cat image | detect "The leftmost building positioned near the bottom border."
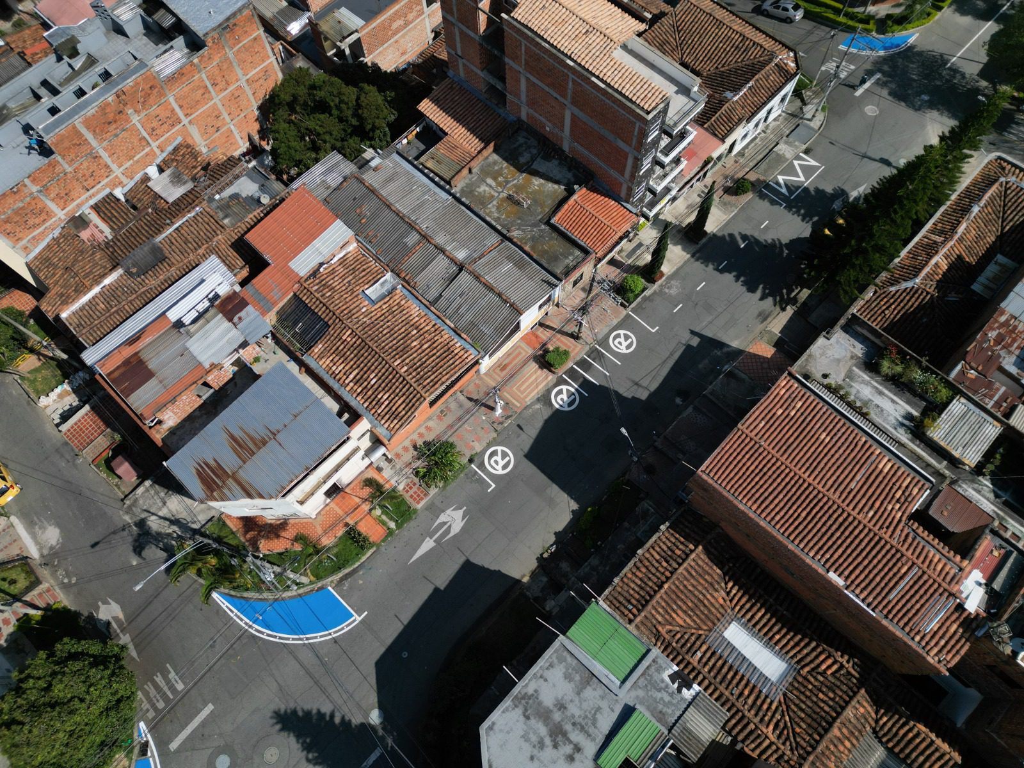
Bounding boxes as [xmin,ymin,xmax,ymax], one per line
[478,583,736,768]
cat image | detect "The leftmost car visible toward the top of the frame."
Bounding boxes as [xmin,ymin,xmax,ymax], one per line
[761,0,808,23]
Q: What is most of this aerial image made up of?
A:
buildings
